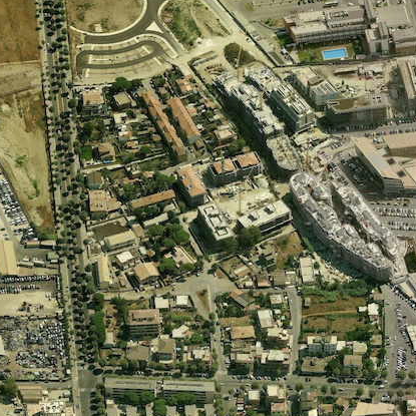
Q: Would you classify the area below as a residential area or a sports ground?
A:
residential area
